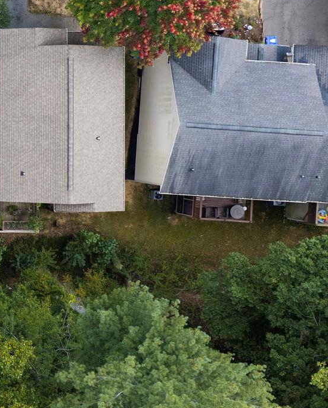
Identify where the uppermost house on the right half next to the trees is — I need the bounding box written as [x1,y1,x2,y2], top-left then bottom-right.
[126,42,328,204]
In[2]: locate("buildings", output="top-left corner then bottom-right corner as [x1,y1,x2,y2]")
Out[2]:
[0,27,126,212]
[126,42,328,204]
